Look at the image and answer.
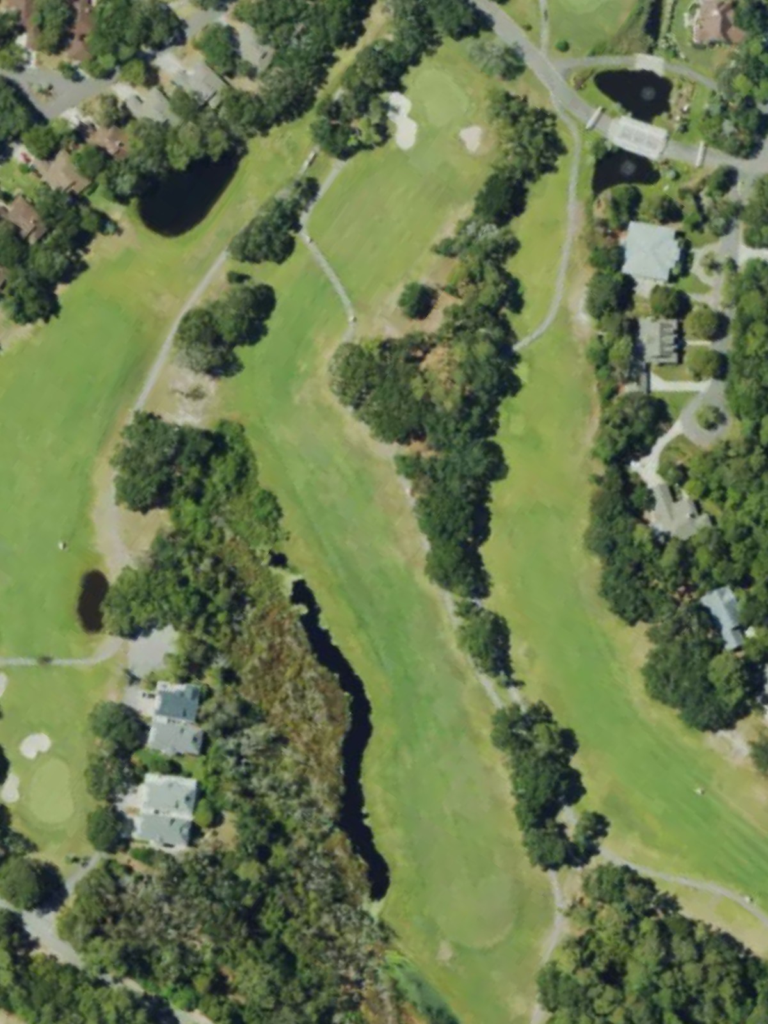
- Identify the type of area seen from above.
golf course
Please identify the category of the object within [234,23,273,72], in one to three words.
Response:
house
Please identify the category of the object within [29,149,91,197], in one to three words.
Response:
house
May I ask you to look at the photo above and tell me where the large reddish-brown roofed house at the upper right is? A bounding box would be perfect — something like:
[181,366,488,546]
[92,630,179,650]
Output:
[694,0,748,42]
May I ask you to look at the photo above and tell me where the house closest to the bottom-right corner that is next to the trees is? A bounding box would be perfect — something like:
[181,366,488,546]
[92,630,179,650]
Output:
[699,582,747,650]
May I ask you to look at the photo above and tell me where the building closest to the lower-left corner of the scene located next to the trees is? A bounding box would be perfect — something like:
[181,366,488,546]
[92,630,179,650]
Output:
[130,811,191,851]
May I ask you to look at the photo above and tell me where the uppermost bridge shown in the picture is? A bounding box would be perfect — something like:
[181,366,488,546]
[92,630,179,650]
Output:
[634,54,666,78]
